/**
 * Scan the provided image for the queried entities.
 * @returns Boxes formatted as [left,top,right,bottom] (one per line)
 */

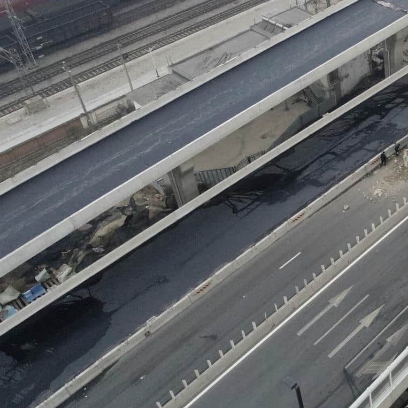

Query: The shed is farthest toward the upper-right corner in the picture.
[273,5,316,27]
